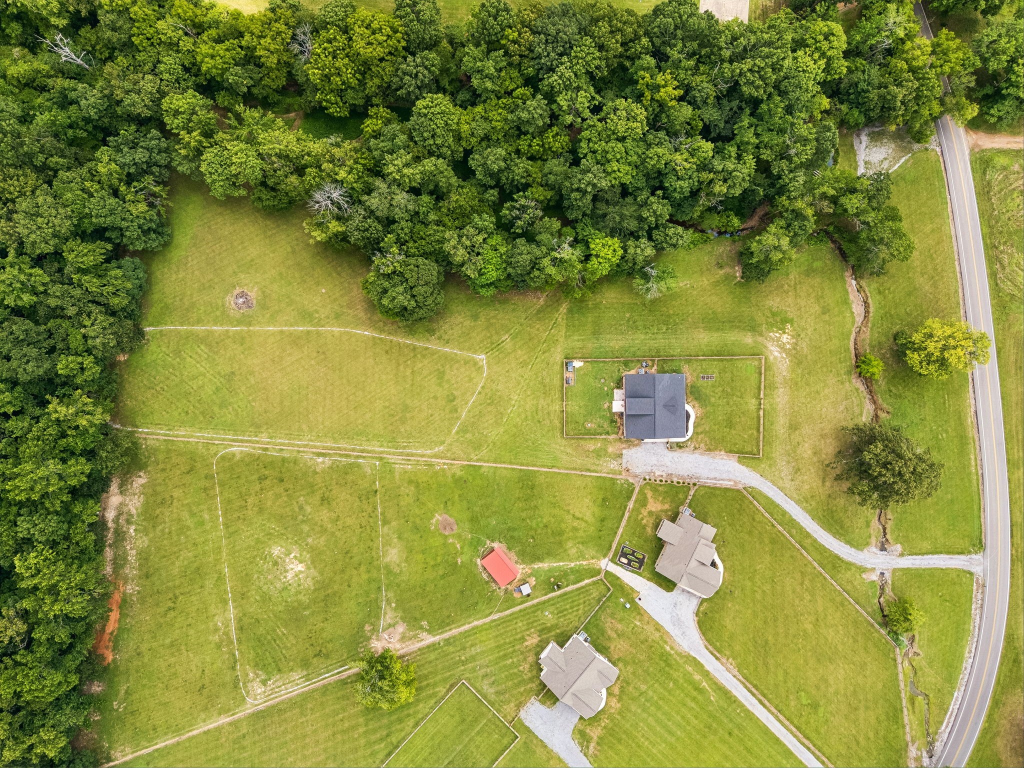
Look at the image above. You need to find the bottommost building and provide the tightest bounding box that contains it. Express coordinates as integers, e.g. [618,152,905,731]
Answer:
[538,633,620,720]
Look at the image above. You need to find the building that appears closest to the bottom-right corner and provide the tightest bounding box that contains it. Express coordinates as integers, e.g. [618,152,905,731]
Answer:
[654,513,721,598]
